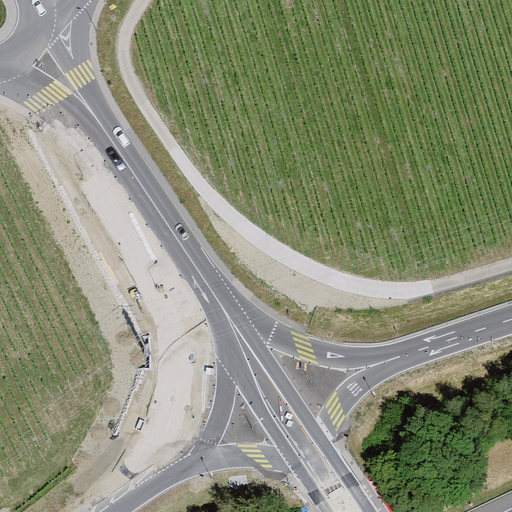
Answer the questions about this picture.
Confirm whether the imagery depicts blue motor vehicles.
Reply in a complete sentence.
No, this view has no blue motor vehicle in it.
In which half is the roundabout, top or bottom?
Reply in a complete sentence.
The roundabout is in the top half of the image.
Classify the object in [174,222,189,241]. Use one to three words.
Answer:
car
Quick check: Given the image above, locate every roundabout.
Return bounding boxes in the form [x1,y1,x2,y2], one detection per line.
[0,0,104,116]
